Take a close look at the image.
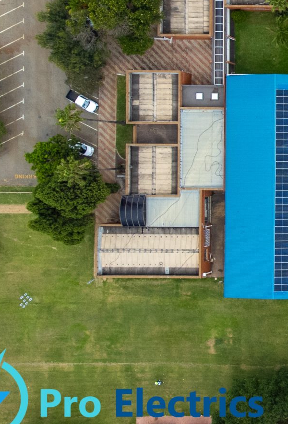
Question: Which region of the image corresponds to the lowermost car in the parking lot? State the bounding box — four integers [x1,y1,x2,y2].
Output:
[67,138,96,156]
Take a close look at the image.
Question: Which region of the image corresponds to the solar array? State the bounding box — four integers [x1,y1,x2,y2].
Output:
[274,86,288,292]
